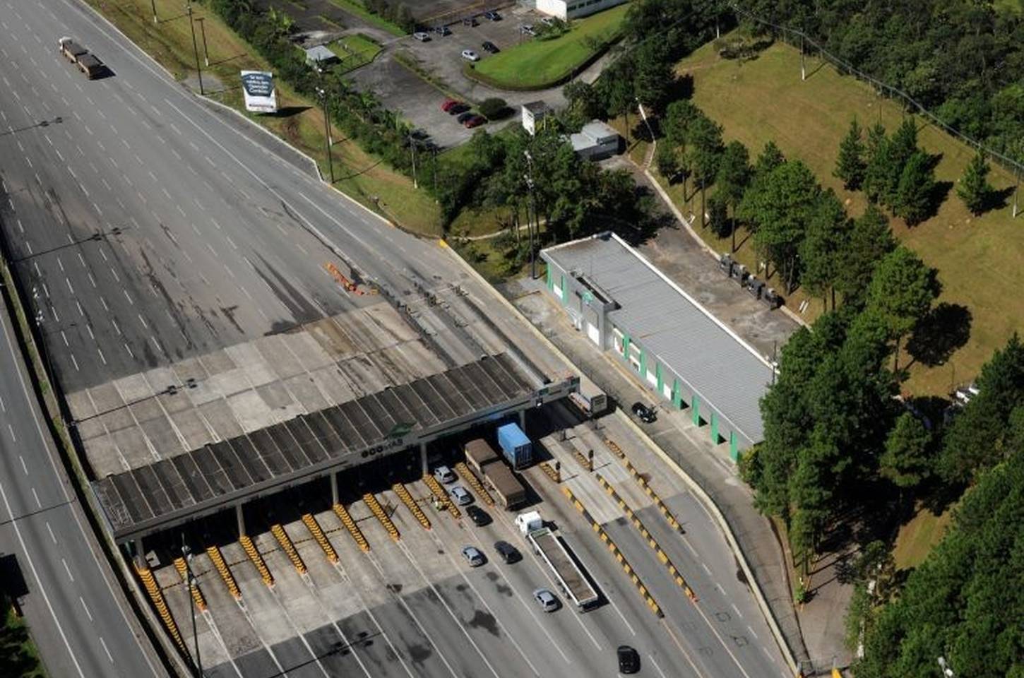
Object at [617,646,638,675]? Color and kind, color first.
black car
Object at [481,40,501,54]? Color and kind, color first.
black car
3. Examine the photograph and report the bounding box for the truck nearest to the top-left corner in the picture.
[49,40,104,84]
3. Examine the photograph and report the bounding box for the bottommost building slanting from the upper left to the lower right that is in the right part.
[545,226,824,476]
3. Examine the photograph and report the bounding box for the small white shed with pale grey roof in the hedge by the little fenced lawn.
[305,45,339,75]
